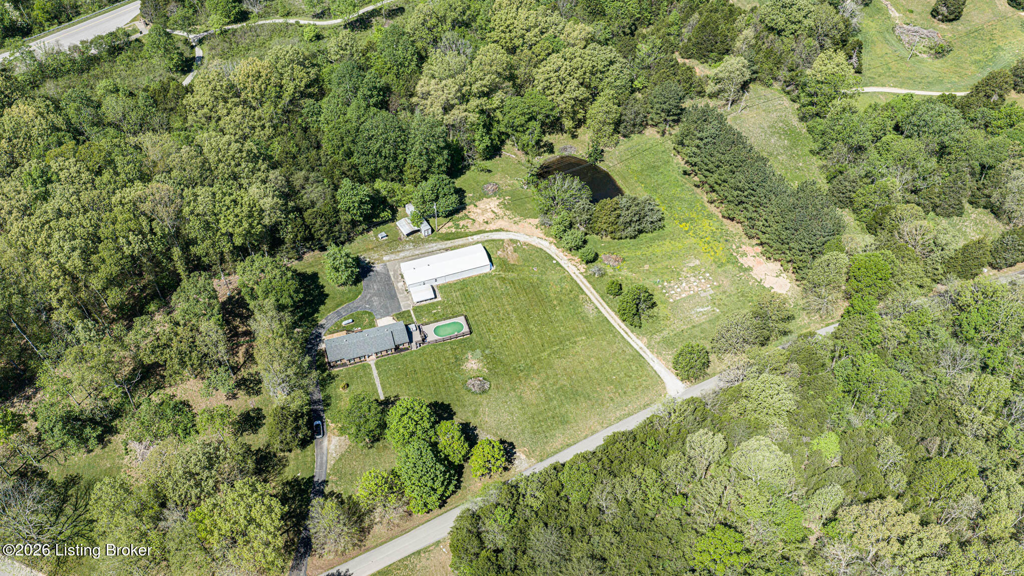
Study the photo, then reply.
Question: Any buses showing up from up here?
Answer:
No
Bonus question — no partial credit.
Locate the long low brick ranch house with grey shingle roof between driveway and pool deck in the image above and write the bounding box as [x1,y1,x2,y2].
[325,322,409,367]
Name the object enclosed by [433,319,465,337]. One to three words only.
swimming pool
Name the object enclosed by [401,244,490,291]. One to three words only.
barn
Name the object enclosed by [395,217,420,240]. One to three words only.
shed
